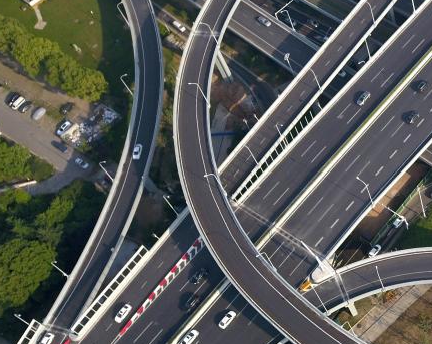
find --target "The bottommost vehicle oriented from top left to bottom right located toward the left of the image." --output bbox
[74,156,90,169]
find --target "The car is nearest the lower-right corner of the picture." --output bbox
[367,243,383,259]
